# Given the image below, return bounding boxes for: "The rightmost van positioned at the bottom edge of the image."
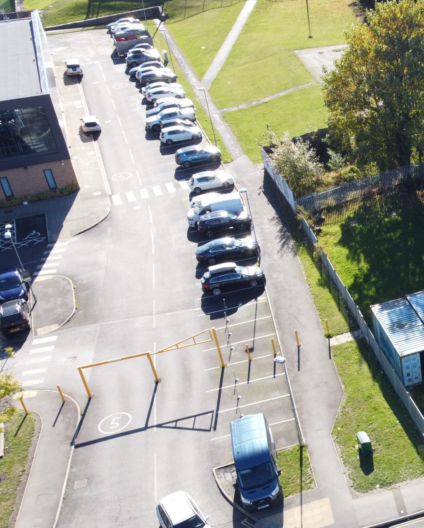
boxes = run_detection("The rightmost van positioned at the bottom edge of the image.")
[222,416,290,518]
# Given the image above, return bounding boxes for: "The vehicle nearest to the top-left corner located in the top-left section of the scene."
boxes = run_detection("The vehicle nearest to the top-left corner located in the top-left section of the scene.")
[61,61,79,77]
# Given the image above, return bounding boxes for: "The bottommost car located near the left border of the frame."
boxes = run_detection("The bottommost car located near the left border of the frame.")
[0,297,30,336]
